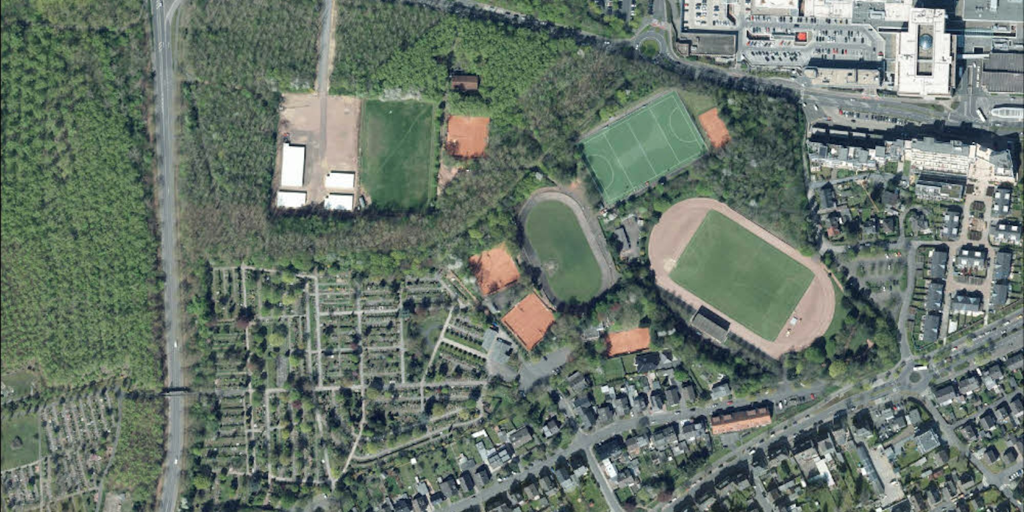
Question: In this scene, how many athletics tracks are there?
2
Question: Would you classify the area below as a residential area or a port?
residential area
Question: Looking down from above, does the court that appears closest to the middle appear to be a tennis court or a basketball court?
tennis court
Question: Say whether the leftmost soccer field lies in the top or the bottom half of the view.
top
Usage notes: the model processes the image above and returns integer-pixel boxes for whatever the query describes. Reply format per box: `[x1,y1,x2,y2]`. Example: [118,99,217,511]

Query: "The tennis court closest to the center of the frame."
[471,242,520,295]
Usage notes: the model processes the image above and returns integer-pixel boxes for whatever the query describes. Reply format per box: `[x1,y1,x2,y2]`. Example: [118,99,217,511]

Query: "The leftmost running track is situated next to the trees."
[518,186,618,307]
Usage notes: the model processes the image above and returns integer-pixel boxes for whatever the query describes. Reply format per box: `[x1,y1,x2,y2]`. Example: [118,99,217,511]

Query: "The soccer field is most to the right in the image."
[669,210,815,341]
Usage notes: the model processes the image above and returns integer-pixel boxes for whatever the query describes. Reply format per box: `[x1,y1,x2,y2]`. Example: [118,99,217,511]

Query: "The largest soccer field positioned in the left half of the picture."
[358,99,434,209]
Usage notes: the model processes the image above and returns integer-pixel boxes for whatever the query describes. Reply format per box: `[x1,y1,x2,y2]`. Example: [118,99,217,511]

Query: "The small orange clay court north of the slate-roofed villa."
[607,328,650,358]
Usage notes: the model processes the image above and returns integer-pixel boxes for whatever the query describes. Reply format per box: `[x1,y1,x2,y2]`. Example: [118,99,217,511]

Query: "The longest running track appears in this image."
[648,197,844,360]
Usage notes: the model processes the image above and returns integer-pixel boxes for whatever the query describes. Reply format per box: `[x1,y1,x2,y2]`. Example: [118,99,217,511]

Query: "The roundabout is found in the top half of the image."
[633,32,667,65]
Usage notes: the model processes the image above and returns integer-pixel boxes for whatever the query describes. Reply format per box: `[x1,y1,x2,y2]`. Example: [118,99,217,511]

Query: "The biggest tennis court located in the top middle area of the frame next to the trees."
[447,116,489,157]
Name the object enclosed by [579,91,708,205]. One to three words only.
sports field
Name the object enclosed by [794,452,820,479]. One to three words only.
house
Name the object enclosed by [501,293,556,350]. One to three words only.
tennis court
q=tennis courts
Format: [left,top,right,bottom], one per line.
[471,242,520,295]
[700,108,729,147]
[447,116,489,157]
[607,328,650,358]
[501,293,556,350]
